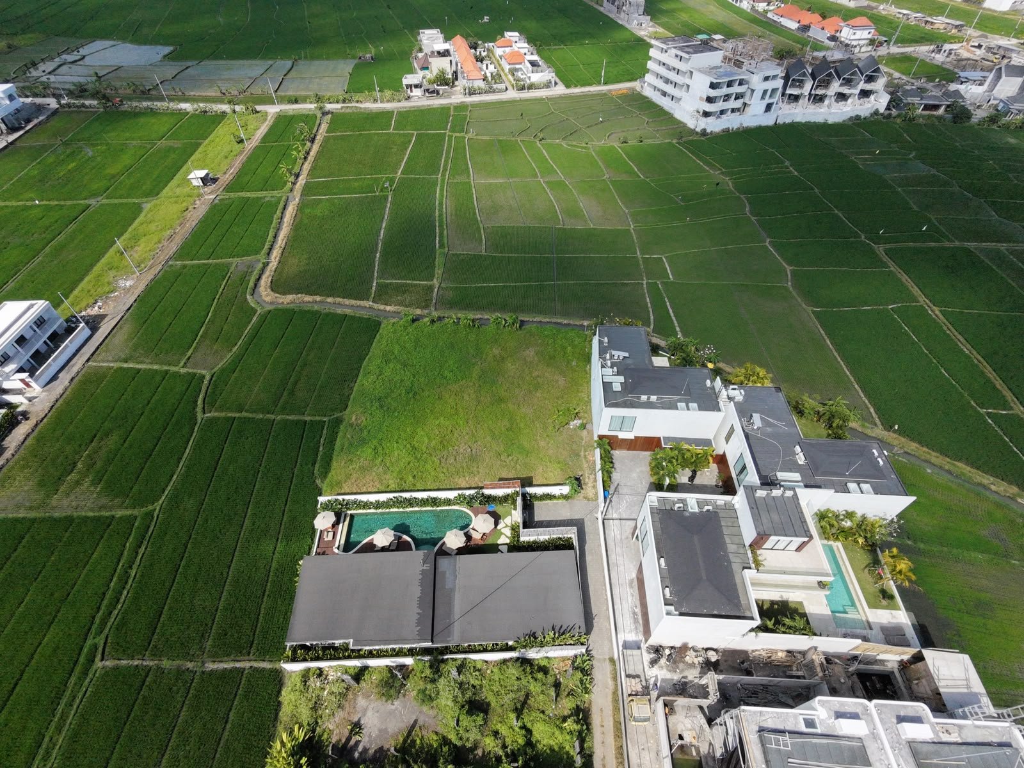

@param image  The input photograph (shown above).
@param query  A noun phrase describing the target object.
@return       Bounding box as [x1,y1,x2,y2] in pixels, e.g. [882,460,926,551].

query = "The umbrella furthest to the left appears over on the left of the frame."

[315,511,337,531]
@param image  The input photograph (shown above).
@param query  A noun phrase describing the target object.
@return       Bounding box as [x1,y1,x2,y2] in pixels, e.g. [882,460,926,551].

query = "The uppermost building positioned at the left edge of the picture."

[0,84,33,133]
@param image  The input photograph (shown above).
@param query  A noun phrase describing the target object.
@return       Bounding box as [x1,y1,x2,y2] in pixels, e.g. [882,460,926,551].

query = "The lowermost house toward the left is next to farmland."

[0,301,72,407]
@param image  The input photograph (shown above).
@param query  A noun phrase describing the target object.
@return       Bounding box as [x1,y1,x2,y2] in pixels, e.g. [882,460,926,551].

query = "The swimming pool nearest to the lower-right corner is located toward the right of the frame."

[821,539,876,631]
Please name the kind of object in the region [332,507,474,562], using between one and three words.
swimming pool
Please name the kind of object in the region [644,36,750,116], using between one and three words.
building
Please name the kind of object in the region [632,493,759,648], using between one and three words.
house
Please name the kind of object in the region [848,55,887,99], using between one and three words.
house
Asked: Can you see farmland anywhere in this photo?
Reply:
Yes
